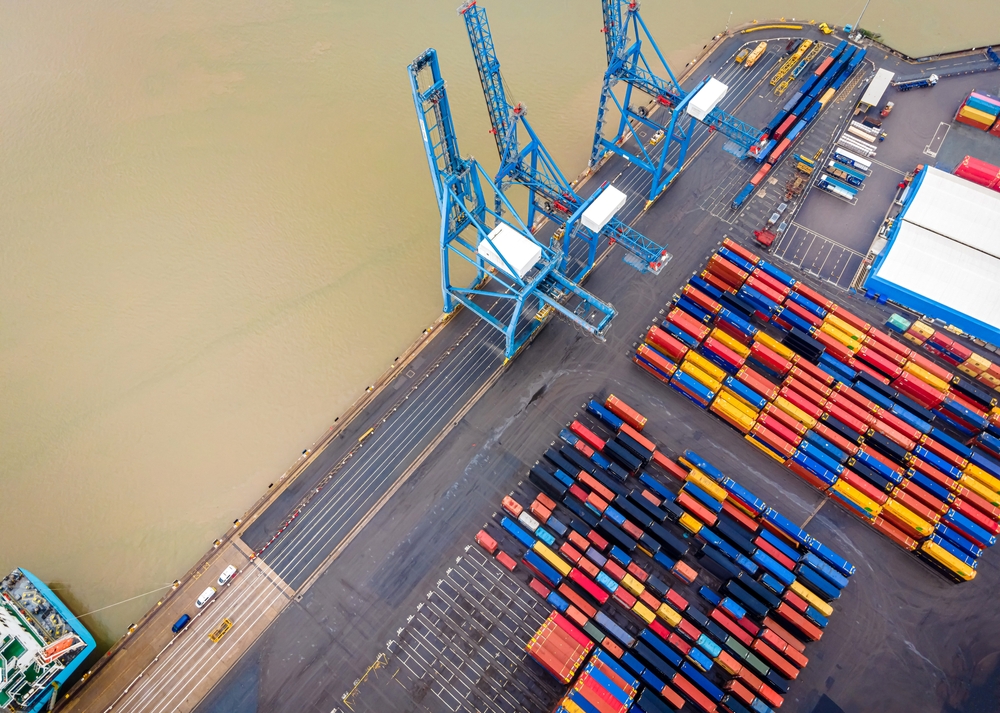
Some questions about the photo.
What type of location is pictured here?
port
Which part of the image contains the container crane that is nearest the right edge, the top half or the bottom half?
top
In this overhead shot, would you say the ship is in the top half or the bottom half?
bottom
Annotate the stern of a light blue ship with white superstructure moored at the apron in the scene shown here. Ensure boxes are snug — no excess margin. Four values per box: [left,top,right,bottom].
[0,570,100,713]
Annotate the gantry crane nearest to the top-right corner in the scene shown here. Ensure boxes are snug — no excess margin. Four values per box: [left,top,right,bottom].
[583,0,777,208]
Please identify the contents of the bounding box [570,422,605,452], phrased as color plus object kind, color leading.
red shipping container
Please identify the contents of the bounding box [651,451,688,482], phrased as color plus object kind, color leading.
red shipping container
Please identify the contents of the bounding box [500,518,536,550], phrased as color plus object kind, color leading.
blue shipping container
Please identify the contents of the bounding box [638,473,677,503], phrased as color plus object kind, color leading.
blue shipping container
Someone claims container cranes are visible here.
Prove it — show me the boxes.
[447,0,680,304]
[583,0,777,208]
[399,42,624,367]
